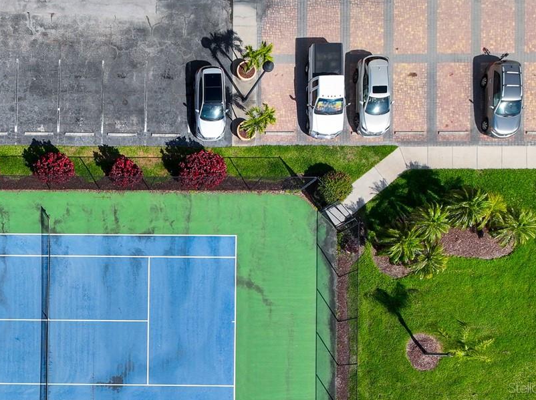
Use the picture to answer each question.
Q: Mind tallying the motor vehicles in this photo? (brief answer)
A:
four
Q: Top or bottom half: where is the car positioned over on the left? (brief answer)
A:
top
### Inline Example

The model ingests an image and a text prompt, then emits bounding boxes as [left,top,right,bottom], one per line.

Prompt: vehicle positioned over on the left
[192,66,230,142]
